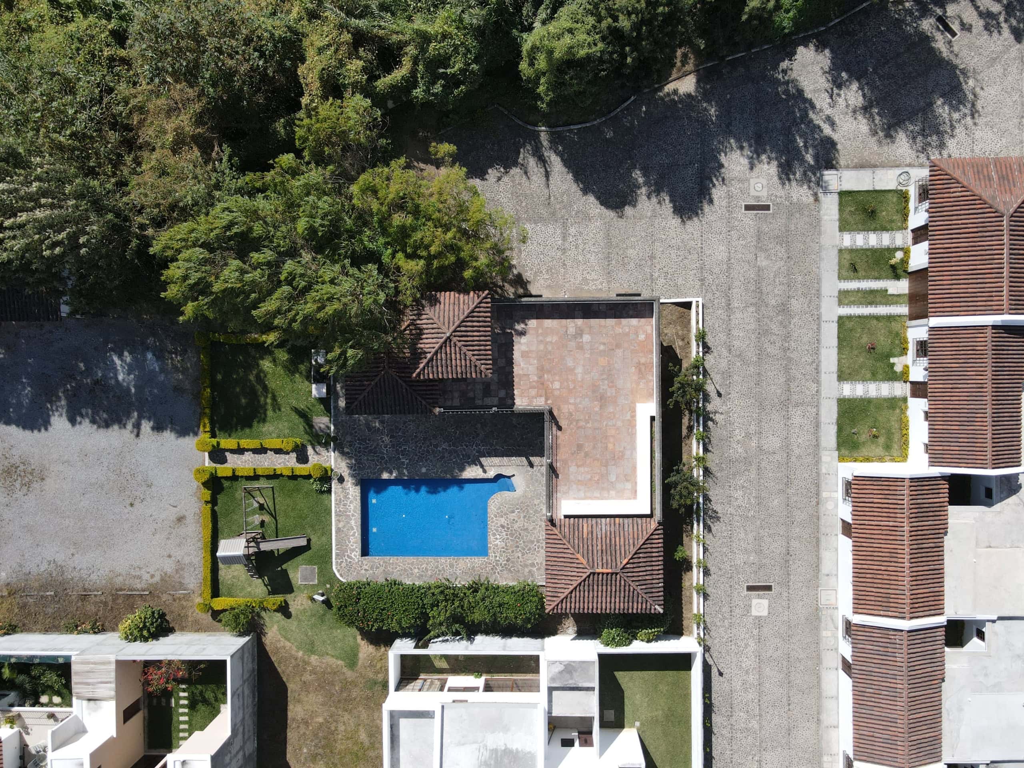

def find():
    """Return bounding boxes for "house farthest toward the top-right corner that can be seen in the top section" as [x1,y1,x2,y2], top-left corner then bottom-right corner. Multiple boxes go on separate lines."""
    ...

[903,153,1024,332]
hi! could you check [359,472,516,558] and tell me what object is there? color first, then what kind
blue swimming pool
